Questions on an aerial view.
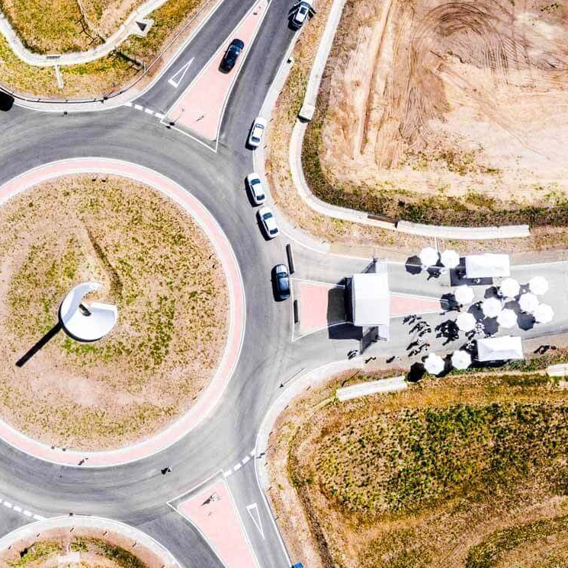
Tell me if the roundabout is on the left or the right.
left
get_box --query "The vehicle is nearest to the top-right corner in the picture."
[286,0,314,30]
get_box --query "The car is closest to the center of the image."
[271,263,289,299]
